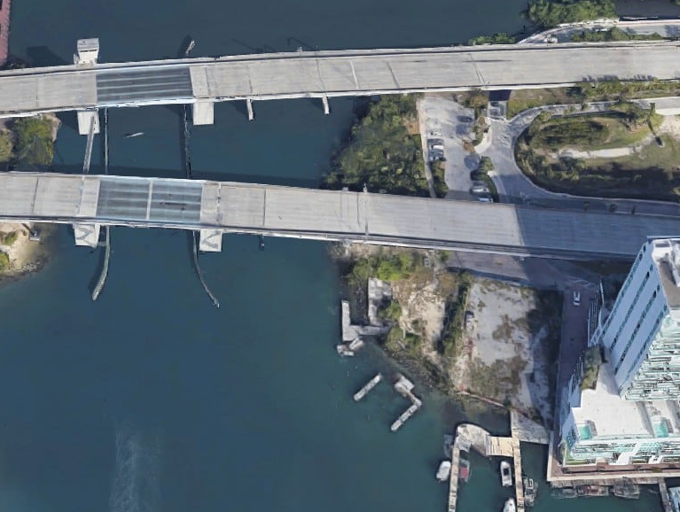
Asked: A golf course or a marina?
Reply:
marina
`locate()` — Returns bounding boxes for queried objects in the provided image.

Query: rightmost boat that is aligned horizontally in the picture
[612,485,643,499]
